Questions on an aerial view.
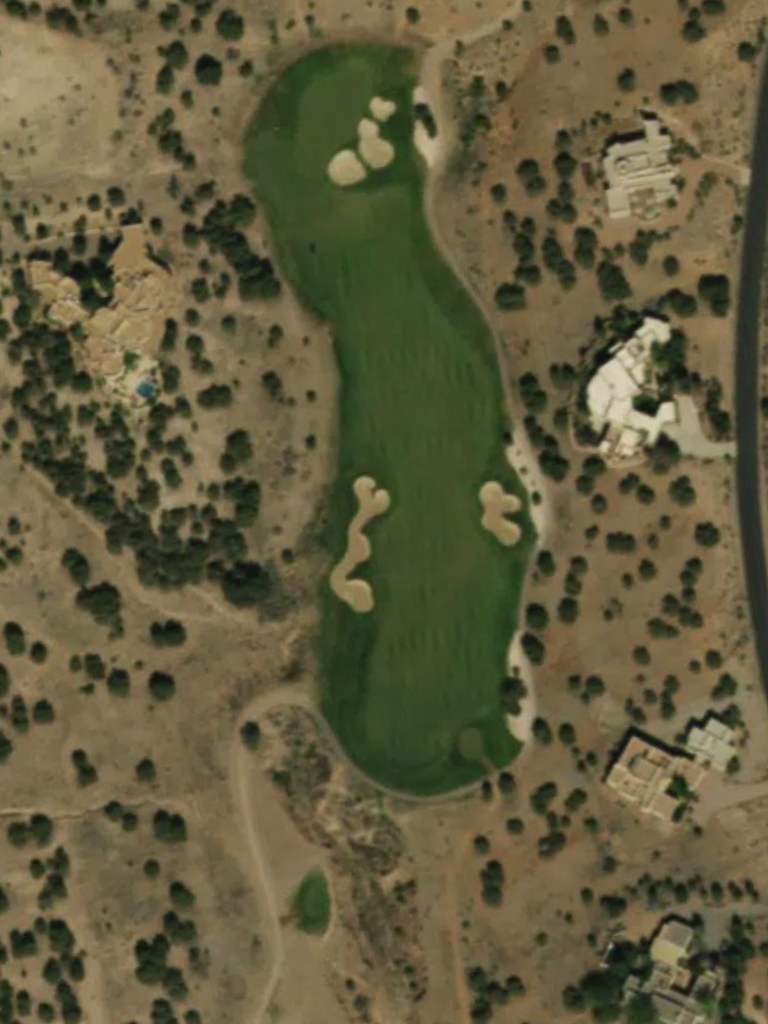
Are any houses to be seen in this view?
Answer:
Yes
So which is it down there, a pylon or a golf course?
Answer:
golf course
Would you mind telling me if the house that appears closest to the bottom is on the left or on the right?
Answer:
right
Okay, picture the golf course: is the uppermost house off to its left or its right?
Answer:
to the right of it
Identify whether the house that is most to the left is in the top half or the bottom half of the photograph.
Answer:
top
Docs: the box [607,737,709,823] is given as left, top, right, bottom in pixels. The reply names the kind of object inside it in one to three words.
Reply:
house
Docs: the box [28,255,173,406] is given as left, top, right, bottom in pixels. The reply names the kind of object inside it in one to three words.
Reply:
house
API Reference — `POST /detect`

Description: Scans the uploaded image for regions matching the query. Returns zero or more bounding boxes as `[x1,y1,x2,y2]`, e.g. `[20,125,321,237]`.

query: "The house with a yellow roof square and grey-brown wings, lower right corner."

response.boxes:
[620,922,722,1024]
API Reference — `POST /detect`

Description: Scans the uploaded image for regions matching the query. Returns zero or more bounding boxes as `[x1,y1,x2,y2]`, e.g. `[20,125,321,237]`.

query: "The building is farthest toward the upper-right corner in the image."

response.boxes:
[603,119,679,222]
